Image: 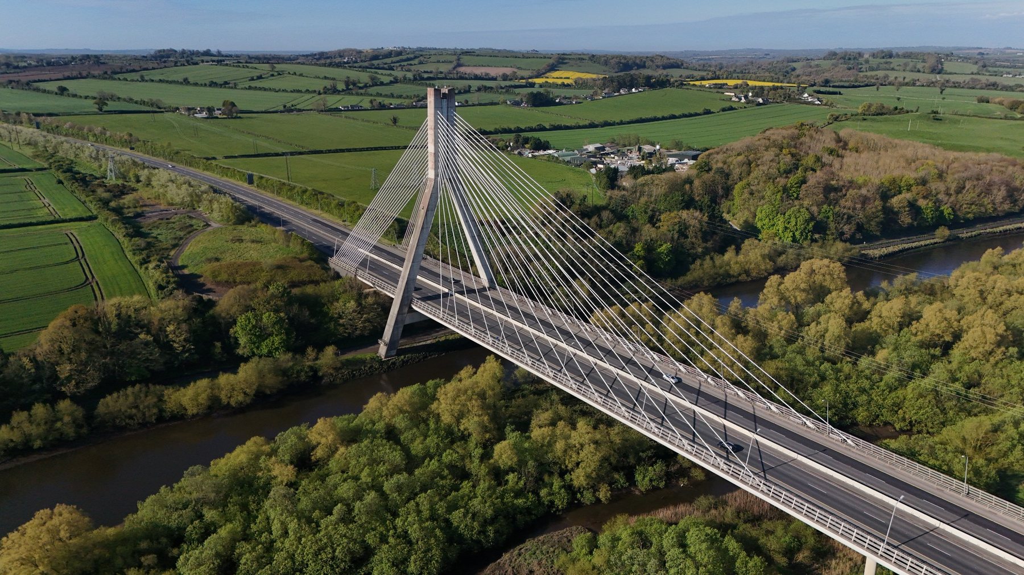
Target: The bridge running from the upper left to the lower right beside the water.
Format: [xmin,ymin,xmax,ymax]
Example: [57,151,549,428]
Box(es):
[333,79,1024,575]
